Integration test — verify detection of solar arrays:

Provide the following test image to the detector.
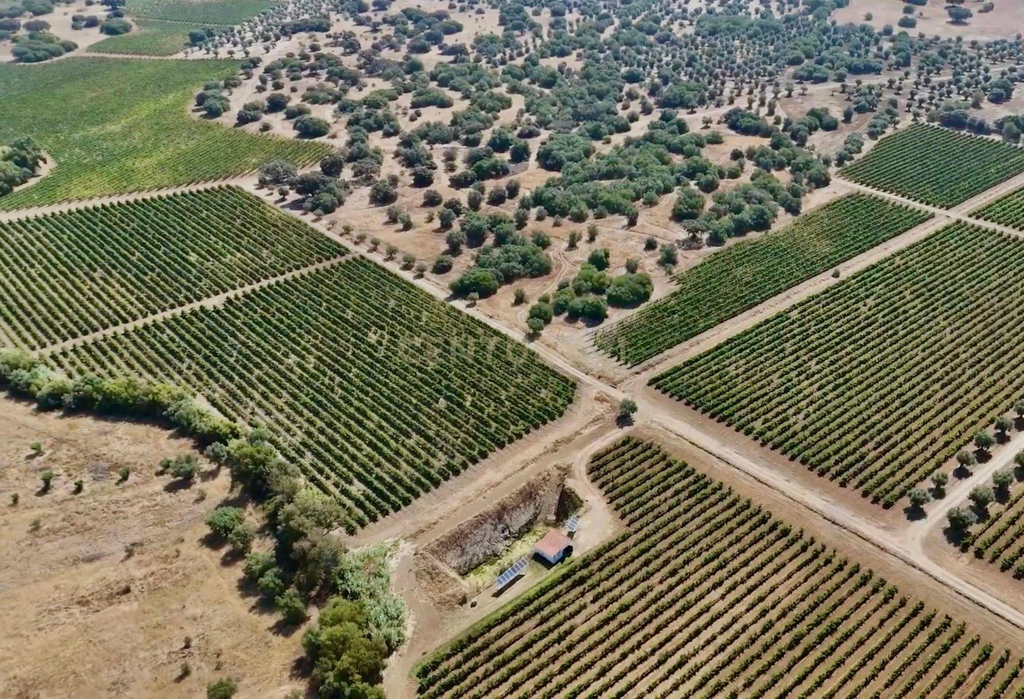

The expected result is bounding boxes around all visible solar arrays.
[494,563,530,590]
[566,519,581,534]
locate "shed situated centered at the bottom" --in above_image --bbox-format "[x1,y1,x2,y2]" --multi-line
[531,531,575,569]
